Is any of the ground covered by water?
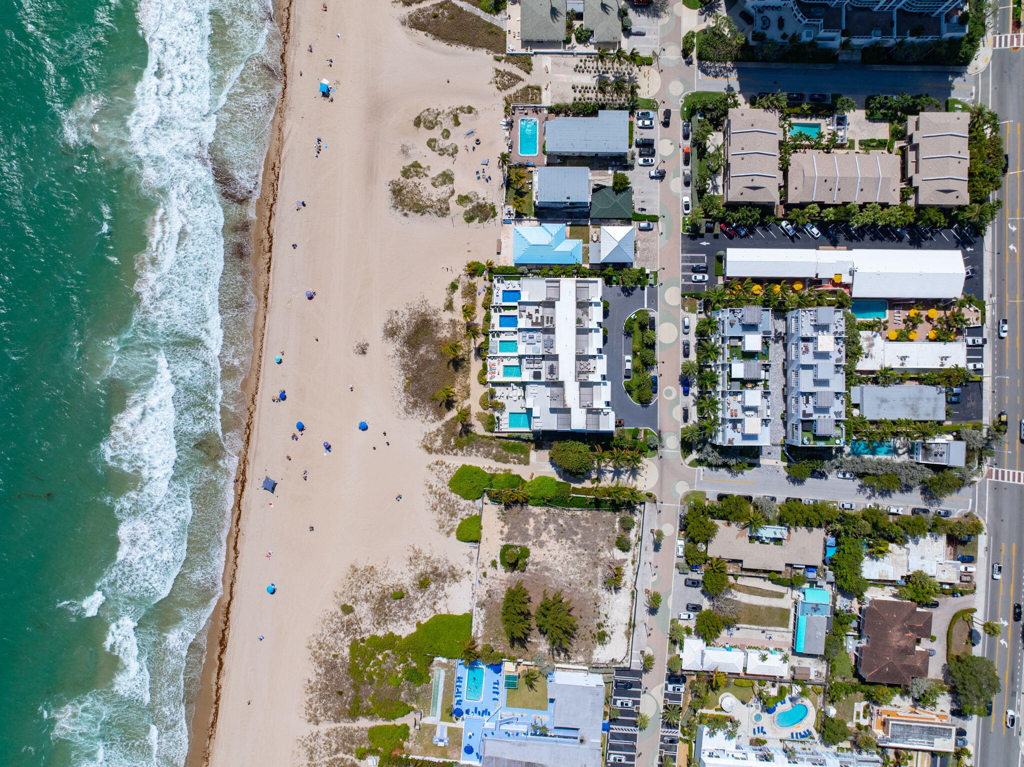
Yes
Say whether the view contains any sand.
Yes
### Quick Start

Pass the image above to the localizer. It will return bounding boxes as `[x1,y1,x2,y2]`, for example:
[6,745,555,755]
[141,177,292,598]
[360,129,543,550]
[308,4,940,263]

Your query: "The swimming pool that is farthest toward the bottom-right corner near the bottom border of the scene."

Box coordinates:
[774,702,810,730]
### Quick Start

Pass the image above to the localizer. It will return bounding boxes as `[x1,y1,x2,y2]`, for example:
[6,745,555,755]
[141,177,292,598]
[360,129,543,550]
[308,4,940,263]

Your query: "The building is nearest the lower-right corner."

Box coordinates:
[866,702,956,753]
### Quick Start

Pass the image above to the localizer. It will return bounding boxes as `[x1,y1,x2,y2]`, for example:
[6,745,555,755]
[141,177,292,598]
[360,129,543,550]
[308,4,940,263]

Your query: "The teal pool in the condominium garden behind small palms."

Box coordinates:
[787,121,823,140]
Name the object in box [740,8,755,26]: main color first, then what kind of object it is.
black car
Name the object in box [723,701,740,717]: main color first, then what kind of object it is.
white gazebo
